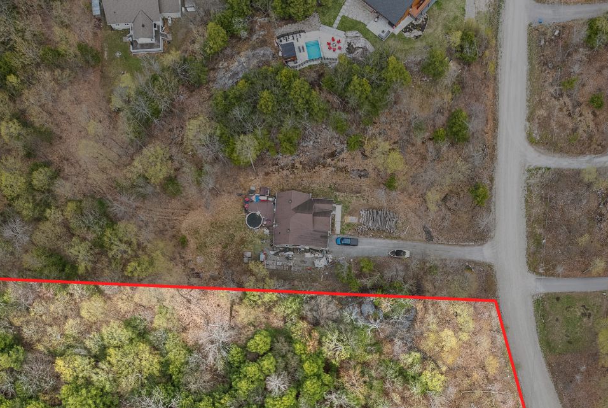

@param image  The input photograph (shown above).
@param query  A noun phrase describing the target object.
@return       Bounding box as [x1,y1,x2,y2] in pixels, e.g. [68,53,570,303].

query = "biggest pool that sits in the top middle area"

[304,39,322,61]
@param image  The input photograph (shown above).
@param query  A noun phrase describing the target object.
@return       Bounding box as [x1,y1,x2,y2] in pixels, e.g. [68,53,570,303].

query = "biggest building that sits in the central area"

[248,190,336,249]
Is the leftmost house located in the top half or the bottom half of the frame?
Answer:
top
